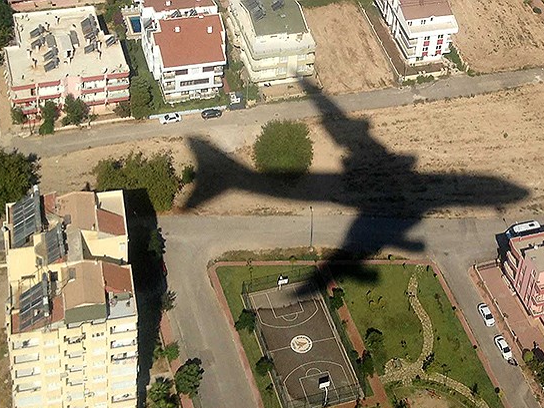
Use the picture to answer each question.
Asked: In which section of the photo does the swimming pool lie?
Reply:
top left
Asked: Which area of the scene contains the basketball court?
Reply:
bottom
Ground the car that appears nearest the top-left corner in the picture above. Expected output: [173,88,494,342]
[158,111,184,125]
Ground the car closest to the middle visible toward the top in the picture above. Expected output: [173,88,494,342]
[199,108,225,121]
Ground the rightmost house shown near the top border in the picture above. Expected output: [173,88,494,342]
[378,0,462,64]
